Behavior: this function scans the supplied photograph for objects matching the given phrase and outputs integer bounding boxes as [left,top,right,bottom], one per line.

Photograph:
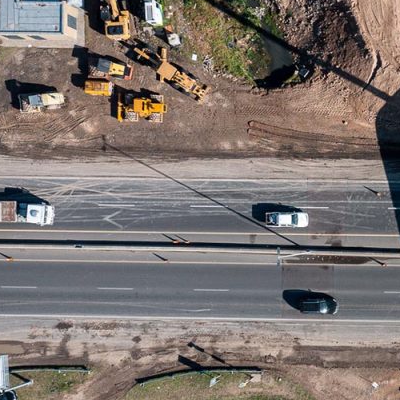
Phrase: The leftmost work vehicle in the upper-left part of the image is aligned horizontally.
[21,93,70,114]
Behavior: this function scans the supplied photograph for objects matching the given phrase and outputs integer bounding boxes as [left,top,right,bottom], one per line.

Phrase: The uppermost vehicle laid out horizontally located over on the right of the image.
[266,210,310,227]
